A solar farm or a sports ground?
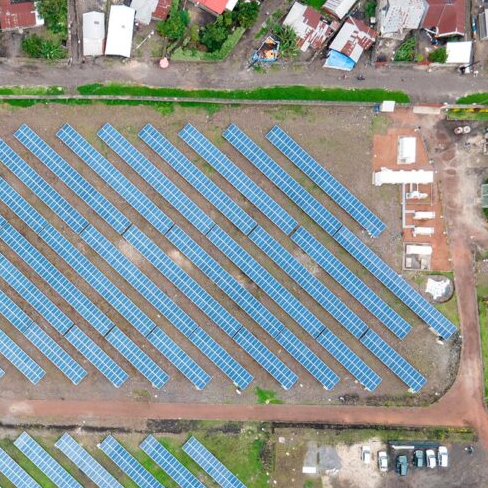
solar farm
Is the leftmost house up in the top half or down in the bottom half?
top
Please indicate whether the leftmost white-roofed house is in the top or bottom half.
top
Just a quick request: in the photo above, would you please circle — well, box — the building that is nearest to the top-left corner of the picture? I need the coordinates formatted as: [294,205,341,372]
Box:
[0,0,43,32]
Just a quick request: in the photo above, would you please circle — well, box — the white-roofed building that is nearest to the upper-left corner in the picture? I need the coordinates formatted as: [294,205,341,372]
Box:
[83,13,104,55]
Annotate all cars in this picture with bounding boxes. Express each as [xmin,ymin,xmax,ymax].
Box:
[413,449,425,468]
[425,449,437,469]
[437,446,448,467]
[361,444,371,464]
[377,452,388,472]
[396,455,408,477]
